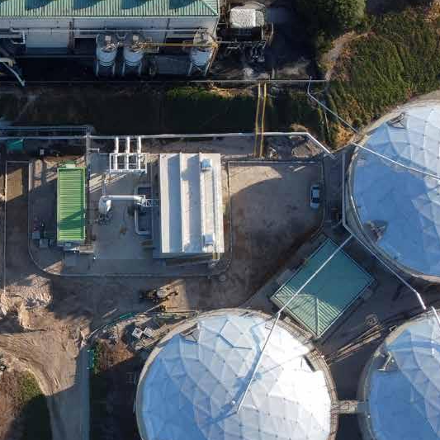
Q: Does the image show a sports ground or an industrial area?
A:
industrial area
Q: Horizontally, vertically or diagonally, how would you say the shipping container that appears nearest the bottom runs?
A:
vertically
